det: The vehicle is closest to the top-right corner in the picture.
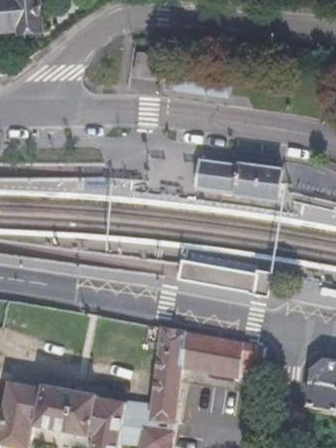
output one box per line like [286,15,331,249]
[285,148,309,160]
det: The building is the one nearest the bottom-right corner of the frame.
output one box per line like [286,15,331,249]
[304,358,336,414]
